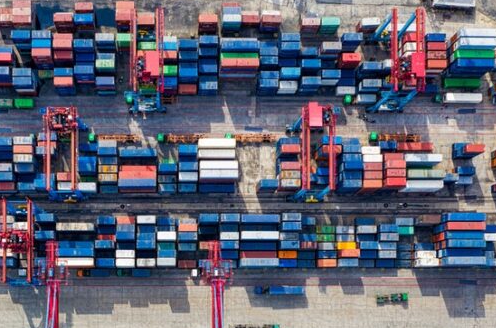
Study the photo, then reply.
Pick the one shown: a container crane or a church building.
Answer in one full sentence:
There is a container crane in the scene.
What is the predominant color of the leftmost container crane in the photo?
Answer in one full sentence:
From above, the leftmost container crane appears red.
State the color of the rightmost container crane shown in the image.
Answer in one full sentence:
The color of the rightmost container crane is red.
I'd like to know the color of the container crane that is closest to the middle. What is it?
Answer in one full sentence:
The container crane that is closest to the middle looks red in the image.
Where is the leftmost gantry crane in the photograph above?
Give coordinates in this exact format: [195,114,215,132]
[0,194,51,291]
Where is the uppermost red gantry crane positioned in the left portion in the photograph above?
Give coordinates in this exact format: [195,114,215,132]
[125,7,168,115]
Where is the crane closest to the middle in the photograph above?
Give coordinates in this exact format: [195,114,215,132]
[284,98,338,206]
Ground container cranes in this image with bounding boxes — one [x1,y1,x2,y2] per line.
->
[0,194,51,291]
[365,5,428,115]
[36,242,71,328]
[201,242,235,328]
[125,7,168,115]
[284,98,338,206]
[40,104,87,206]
